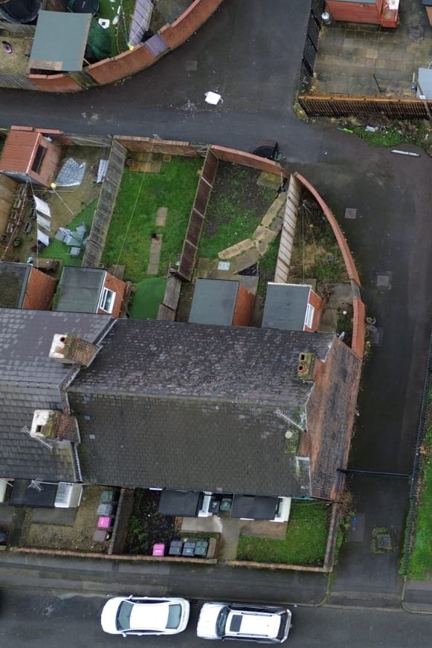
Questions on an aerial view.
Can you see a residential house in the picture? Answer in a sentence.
Yes, a residential house is visible in the scene.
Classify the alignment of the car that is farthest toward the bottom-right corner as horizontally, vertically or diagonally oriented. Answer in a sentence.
Seen from above, the car that is farthest toward the bottom-right corner lies horizontally.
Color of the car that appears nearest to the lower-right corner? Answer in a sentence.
The color of the car that appears nearest to the lower-right corner is white.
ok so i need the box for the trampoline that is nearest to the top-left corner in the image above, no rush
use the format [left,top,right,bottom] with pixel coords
[0,0,45,24]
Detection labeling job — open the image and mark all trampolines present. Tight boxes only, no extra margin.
[65,0,98,13]
[0,0,45,24]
